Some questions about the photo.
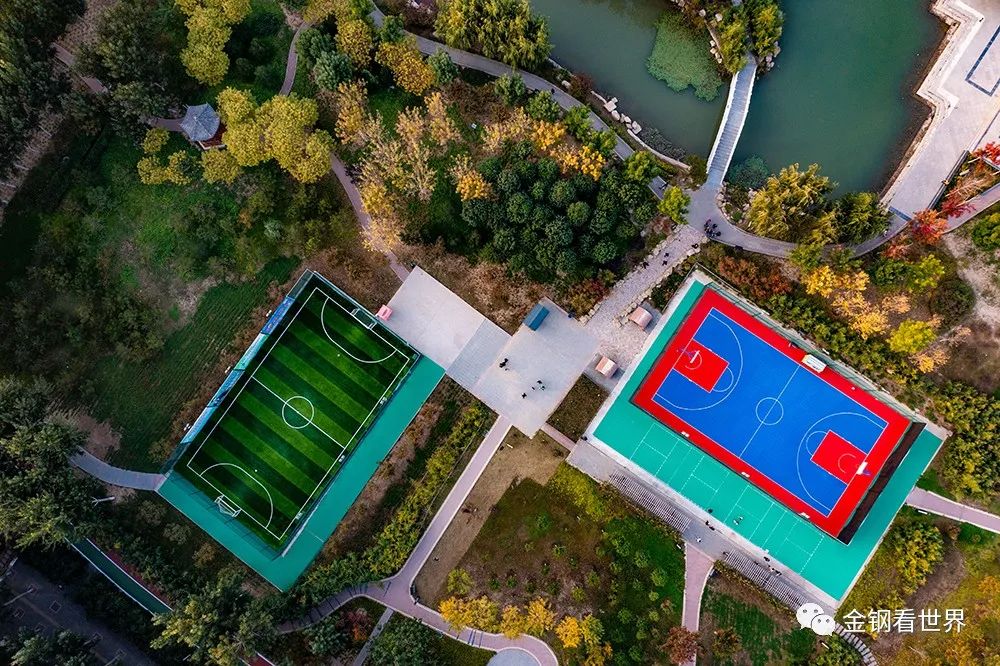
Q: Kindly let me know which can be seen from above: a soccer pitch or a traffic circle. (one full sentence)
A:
The one in the frame is a soccer pitch.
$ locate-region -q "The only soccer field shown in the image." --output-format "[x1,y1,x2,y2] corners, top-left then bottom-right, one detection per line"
[155,273,445,593]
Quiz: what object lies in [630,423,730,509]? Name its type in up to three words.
sports court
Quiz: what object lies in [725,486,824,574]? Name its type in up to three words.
sports court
